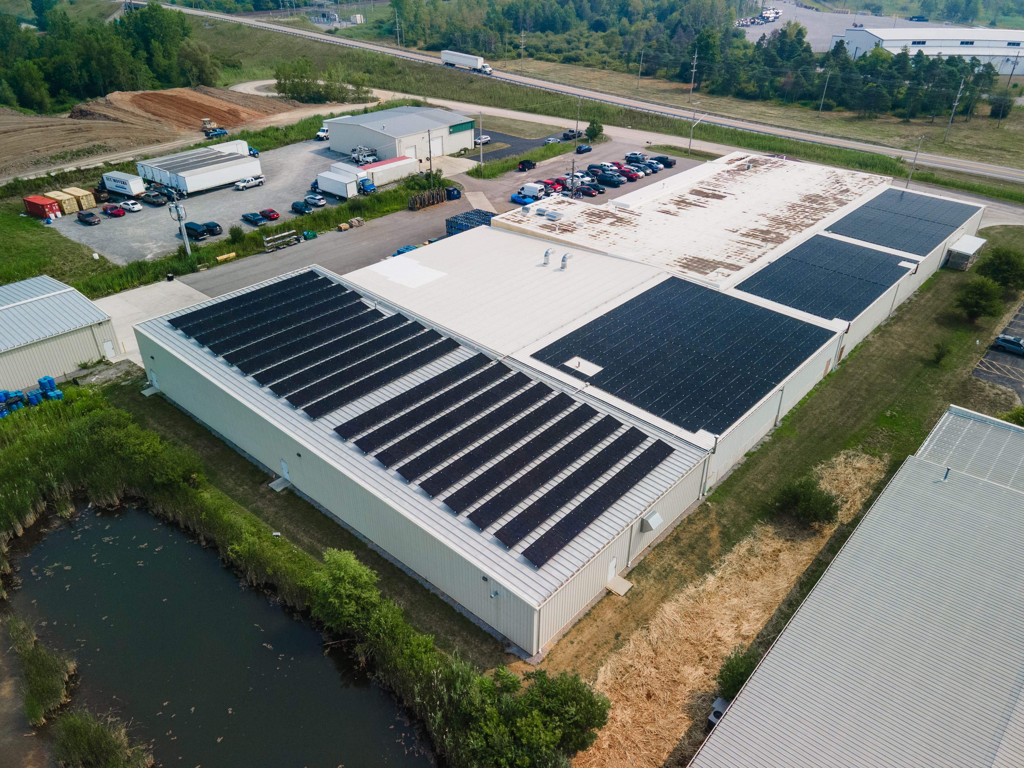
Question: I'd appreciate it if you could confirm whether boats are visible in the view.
No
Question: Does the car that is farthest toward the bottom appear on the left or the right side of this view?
right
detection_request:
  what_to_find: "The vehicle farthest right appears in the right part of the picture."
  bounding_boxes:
[989,332,1024,353]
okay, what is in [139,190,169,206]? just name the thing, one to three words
vehicle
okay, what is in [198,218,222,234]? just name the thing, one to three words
car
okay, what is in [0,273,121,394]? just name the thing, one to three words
shed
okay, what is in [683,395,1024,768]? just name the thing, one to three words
warehouse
